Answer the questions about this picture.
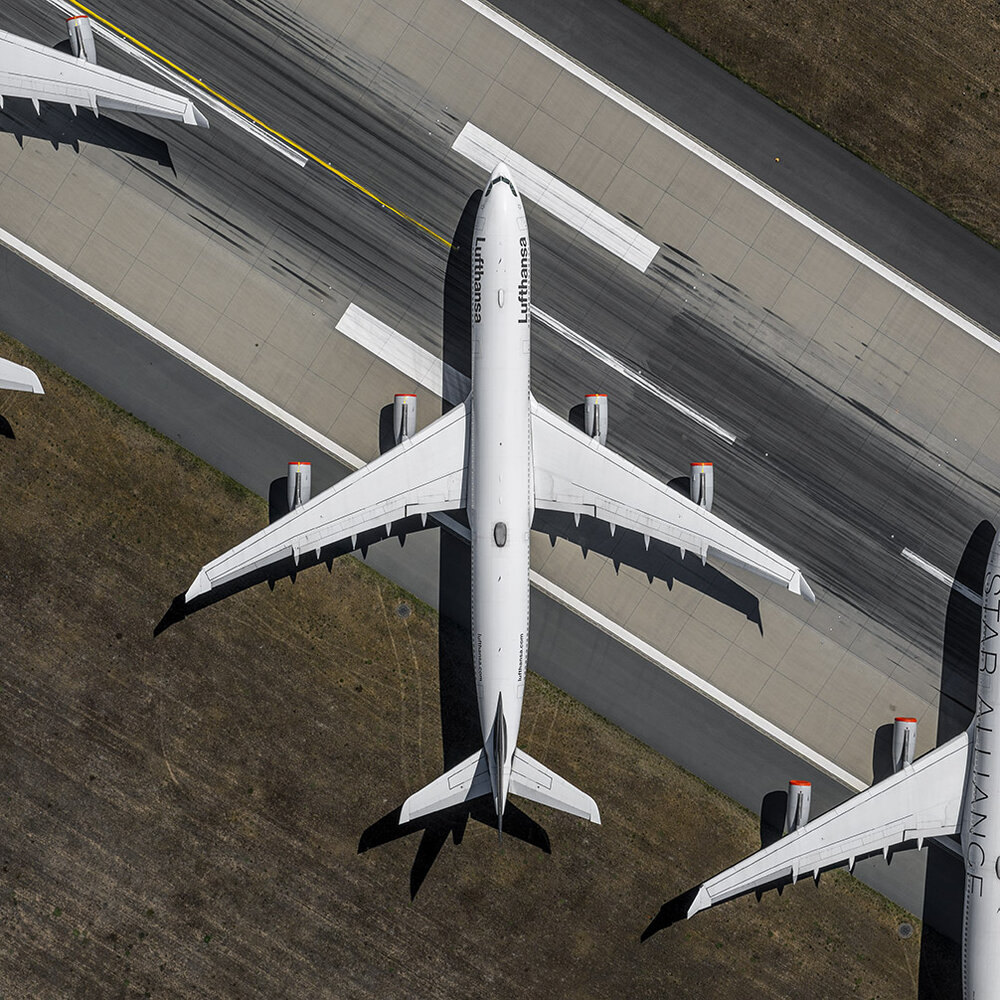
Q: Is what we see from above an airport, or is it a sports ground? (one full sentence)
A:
The area seen from above is an airport.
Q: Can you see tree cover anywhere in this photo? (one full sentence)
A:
No, there is no tree cover in the image.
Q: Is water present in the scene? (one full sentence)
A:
No, the picture contains no water.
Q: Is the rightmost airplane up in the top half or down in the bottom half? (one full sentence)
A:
The bottom half of the photo is where the rightmost airplane is.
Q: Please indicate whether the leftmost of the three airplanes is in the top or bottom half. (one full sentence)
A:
The top half of the photo is where the leftmost of the three airplanes is.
